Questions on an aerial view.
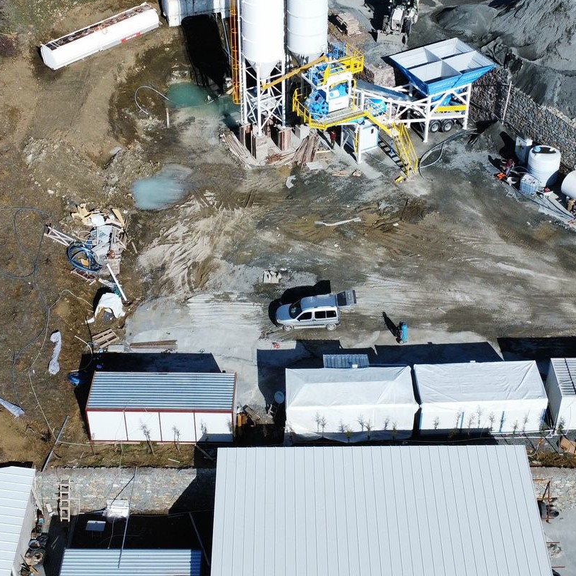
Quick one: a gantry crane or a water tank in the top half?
water tank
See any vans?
Yes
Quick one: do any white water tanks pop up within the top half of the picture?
Yes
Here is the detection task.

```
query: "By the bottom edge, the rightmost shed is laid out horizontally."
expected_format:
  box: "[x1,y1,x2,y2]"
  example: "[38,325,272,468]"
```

[204,434,549,576]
